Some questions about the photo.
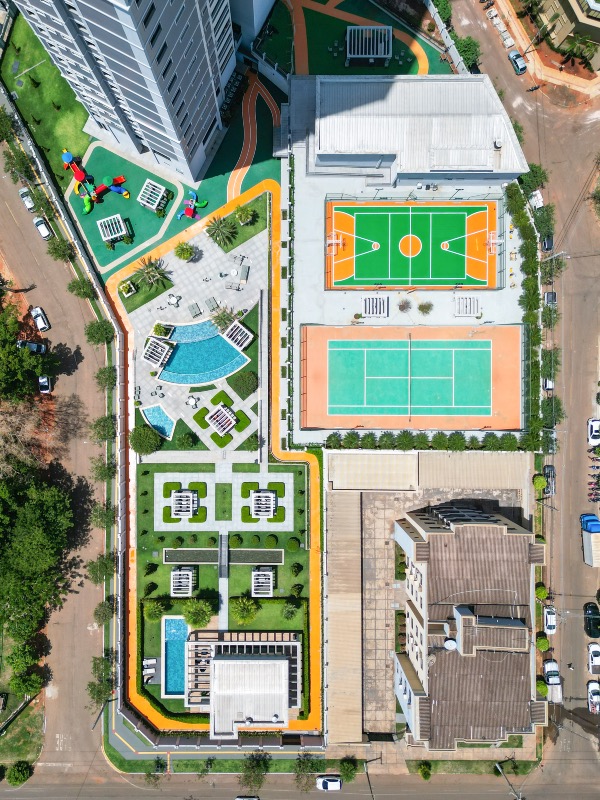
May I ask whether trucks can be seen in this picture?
Yes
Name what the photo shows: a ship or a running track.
running track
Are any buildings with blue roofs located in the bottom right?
No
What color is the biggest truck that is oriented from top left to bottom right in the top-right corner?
white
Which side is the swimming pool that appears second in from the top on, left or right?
left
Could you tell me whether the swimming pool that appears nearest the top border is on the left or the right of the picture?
left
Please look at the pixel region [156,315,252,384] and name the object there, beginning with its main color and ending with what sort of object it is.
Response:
blue swimming pool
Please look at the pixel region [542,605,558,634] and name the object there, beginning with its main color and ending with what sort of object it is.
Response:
white car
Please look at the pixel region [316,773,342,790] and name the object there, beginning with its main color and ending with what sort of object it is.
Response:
white car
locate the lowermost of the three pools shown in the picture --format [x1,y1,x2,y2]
[162,616,191,698]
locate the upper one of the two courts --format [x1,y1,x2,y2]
[326,201,497,290]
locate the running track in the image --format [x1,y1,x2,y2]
[107,181,321,731]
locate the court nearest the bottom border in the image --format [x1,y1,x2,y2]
[302,326,522,428]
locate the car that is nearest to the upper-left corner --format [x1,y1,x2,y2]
[17,187,38,215]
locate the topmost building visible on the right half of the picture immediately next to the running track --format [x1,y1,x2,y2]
[316,75,529,184]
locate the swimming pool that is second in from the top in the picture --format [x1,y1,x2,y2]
[141,403,176,440]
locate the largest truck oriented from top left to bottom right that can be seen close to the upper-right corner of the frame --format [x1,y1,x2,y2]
[483,7,519,52]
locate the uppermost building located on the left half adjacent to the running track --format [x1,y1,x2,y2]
[12,0,238,181]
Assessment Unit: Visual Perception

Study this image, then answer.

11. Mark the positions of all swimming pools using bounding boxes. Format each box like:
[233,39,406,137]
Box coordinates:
[141,403,176,440]
[162,616,191,698]
[156,315,252,384]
